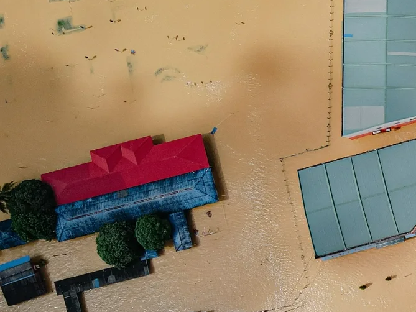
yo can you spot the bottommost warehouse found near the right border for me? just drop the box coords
[297,139,416,260]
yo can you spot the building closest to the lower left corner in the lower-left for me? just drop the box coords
[0,256,51,305]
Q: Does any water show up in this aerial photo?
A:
Yes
